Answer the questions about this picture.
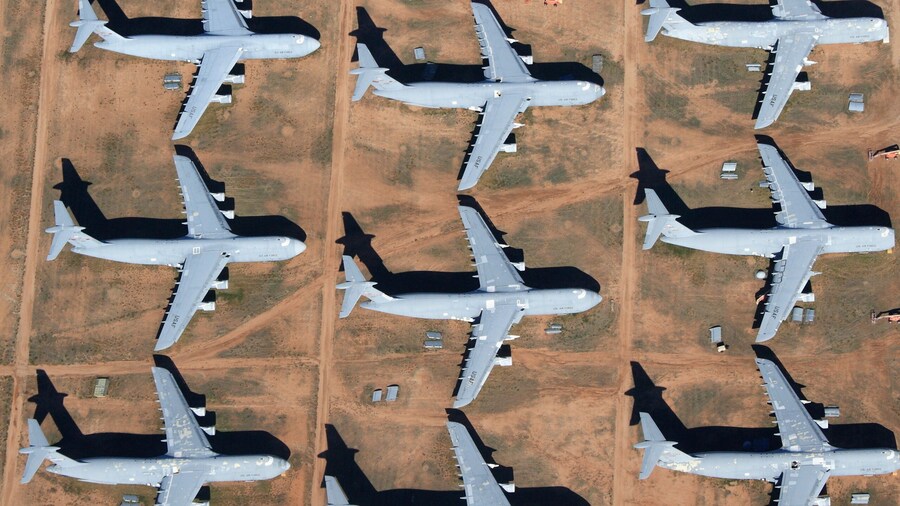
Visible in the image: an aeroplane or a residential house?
aeroplane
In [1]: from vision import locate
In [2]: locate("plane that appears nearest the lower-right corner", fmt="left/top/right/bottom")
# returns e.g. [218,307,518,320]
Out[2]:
[635,358,900,506]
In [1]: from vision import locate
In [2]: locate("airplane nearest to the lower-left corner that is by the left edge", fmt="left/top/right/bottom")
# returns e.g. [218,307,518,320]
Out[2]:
[19,366,290,506]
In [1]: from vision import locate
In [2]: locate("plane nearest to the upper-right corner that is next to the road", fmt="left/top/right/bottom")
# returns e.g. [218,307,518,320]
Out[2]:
[641,0,888,128]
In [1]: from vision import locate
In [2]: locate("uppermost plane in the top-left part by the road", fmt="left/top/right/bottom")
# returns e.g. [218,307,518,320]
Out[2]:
[69,0,321,140]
